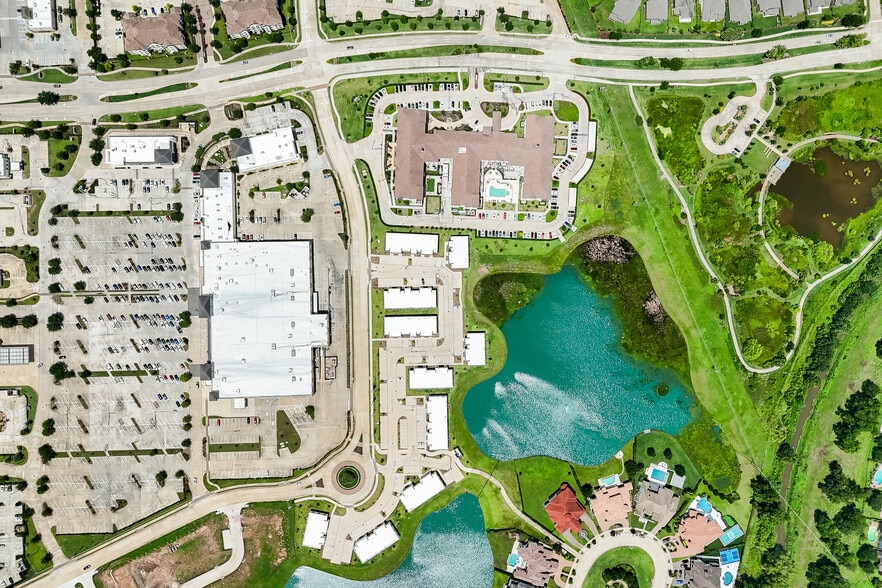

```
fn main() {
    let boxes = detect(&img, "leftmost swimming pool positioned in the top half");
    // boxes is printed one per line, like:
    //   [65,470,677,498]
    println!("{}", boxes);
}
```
[483,169,522,201]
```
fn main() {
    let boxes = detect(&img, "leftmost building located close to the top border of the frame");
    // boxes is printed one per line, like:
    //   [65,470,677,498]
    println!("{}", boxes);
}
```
[123,3,189,56]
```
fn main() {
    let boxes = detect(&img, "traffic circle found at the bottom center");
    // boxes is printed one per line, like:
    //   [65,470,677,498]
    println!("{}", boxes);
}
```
[331,461,365,495]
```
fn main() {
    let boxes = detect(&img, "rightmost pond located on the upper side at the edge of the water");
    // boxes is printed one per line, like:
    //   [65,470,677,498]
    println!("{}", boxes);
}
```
[766,146,882,248]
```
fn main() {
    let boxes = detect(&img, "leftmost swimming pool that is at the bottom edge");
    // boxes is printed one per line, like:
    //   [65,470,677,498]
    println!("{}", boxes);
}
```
[507,548,521,568]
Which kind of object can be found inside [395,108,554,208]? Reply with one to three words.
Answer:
house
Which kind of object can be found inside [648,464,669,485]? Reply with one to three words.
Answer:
swimming pool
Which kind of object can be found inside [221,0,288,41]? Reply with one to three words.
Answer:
building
